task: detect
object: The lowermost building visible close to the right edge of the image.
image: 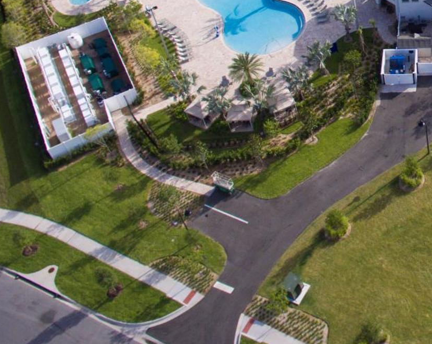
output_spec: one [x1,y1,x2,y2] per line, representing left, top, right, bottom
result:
[379,49,419,84]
